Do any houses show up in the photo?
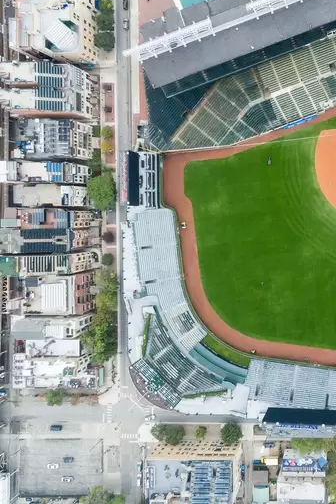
Yes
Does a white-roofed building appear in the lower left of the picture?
Yes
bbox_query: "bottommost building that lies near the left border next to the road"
[12,348,107,389]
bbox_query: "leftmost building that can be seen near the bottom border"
[148,443,241,504]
